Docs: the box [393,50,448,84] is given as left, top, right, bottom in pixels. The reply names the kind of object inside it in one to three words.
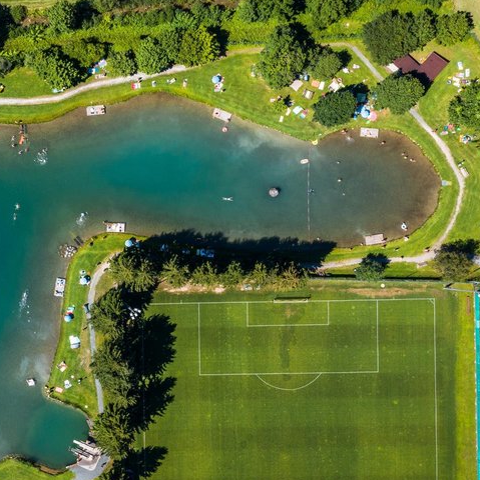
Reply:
building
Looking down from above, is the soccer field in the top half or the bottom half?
bottom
